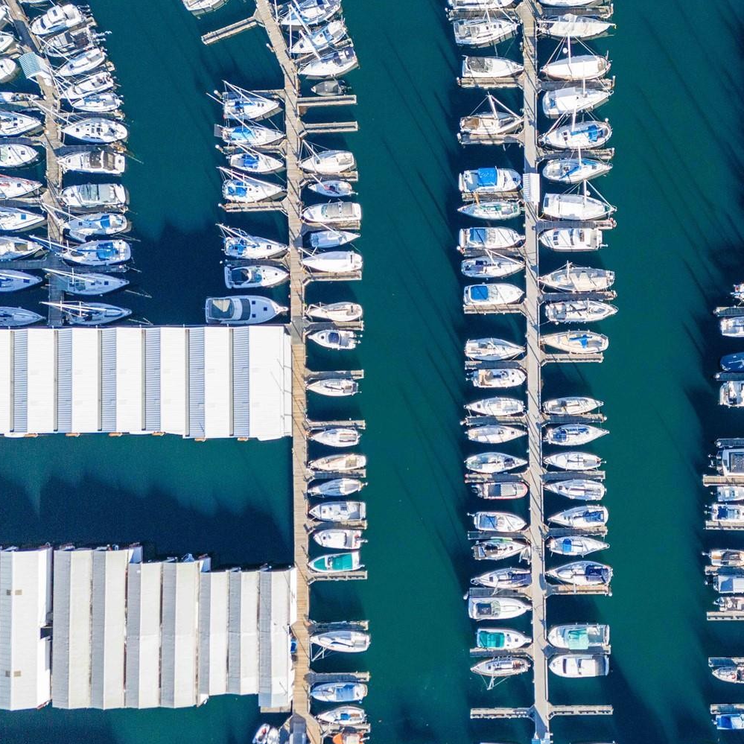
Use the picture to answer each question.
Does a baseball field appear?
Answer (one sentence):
No, no baseball field is visible in the scene.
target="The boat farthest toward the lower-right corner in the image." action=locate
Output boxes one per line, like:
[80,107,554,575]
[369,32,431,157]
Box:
[710,711,744,731]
